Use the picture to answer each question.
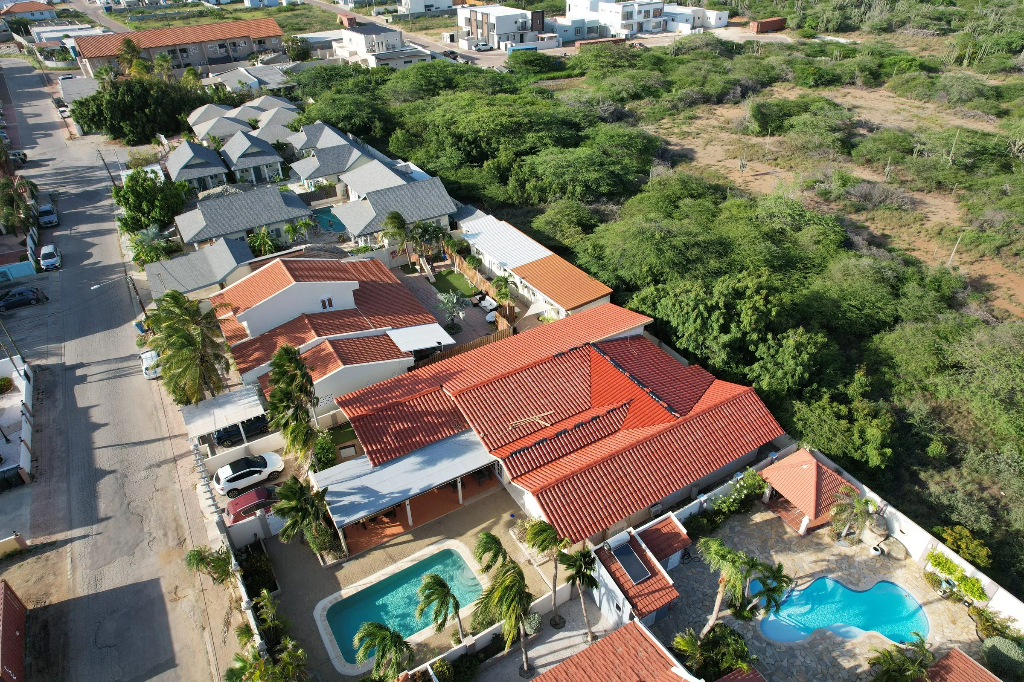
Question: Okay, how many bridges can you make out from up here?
zero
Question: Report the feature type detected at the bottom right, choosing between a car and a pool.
pool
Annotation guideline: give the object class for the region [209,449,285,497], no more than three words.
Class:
car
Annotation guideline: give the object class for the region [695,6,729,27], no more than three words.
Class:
house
